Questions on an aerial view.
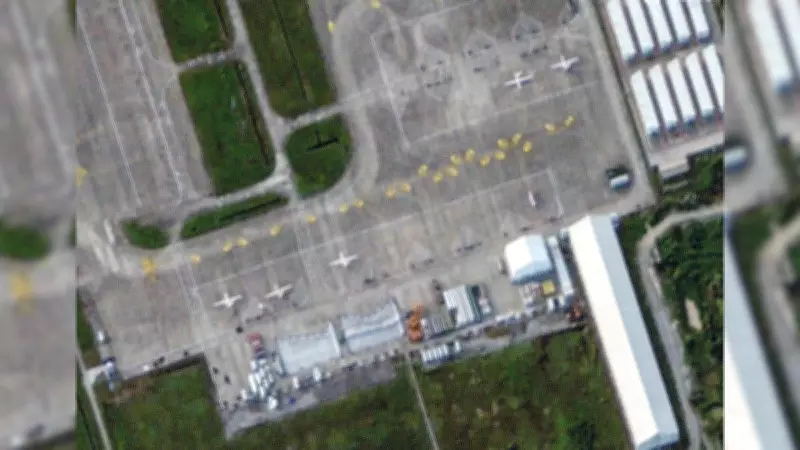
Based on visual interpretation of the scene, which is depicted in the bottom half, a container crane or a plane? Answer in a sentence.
Visible in the bottom half is a plane.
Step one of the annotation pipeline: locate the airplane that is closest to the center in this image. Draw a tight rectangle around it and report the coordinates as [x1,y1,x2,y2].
[330,251,359,271]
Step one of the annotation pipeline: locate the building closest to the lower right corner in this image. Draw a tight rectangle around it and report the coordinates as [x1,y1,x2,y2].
[724,291,764,450]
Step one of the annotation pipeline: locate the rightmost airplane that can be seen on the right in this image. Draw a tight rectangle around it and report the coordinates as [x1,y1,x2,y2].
[552,55,579,73]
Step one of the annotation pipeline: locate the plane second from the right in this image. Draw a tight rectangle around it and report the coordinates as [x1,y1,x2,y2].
[505,70,533,89]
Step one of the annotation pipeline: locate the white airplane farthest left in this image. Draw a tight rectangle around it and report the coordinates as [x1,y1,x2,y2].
[213,291,242,311]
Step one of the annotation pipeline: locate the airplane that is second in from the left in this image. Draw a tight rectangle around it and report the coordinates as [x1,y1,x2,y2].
[263,284,292,303]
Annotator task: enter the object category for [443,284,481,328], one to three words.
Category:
shed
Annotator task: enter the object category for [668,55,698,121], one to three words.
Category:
building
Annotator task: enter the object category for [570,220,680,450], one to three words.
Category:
hangar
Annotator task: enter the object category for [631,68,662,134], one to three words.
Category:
building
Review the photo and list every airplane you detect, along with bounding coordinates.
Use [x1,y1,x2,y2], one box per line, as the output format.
[505,70,533,89]
[263,284,292,303]
[552,55,579,73]
[213,291,242,311]
[330,251,359,271]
